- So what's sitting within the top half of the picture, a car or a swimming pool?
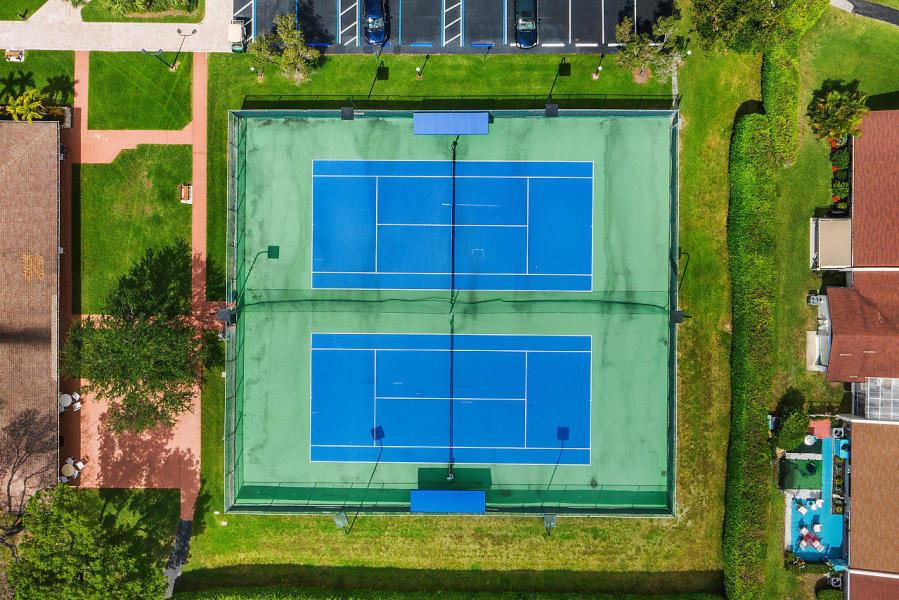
car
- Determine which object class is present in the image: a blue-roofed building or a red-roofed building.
red-roofed building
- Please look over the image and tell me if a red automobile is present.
No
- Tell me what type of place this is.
sports ground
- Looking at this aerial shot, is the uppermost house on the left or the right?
right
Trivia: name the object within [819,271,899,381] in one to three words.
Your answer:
house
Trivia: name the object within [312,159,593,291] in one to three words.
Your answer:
tennis court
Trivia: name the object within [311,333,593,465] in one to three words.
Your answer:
tennis court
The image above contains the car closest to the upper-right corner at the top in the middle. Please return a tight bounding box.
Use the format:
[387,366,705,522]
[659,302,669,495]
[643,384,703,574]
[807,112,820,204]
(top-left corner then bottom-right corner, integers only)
[514,0,541,48]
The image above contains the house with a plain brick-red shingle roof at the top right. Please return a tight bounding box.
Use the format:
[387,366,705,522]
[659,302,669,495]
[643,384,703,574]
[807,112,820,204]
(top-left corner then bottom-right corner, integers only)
[811,108,899,268]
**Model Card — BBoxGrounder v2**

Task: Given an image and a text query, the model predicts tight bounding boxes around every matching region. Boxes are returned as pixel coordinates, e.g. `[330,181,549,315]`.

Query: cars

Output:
[361,0,388,45]
[514,0,541,48]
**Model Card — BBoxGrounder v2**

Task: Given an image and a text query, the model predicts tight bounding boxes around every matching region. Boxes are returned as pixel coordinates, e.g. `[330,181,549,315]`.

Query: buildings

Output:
[845,421,899,571]
[0,119,61,512]
[819,271,899,381]
[811,108,899,268]
[843,570,899,600]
